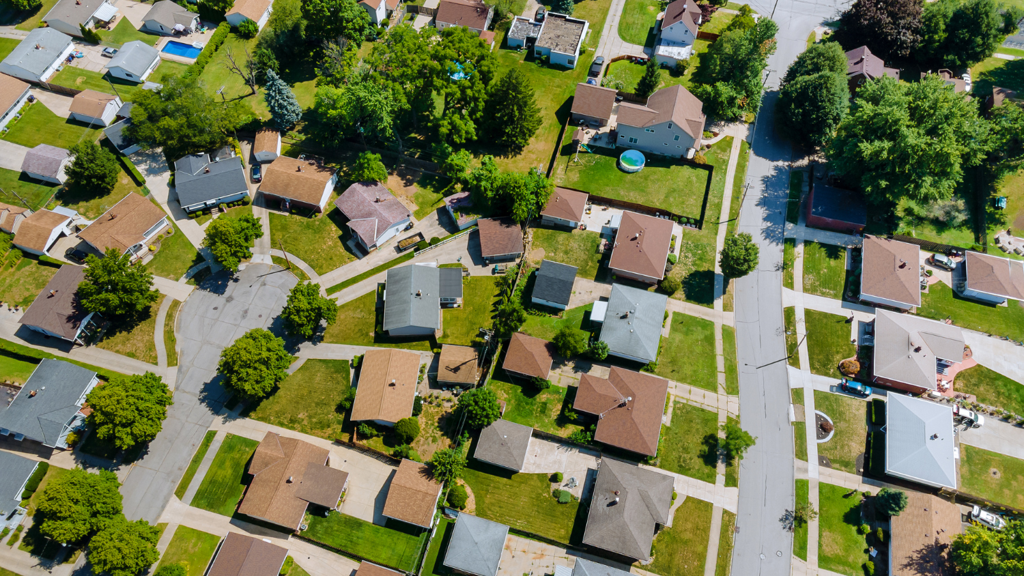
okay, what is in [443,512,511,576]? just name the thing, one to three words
building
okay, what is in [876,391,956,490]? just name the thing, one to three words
house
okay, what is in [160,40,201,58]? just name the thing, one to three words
swimming pool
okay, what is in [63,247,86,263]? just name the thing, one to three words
car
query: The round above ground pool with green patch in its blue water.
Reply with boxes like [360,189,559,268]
[618,149,644,173]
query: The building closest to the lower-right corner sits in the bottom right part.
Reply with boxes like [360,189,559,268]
[886,488,961,576]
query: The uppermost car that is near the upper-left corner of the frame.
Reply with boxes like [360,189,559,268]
[97,44,119,56]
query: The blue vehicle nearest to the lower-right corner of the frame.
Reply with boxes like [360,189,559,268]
[843,376,873,395]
